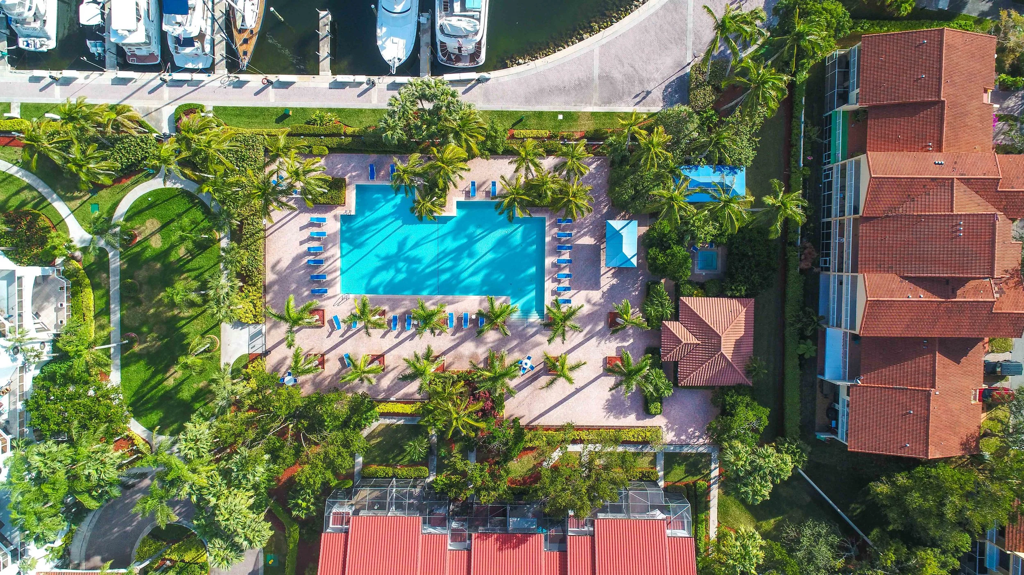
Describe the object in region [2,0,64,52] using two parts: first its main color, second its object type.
white boat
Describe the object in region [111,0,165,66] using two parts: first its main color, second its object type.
white boat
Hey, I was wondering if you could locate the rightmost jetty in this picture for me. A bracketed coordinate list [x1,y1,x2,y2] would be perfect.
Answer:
[420,13,432,76]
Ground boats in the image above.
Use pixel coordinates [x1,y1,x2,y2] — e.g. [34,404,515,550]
[16,36,51,53]
[202,0,267,71]
[79,0,108,58]
[163,0,215,71]
[435,0,488,70]
[111,0,165,66]
[2,0,64,52]
[376,0,419,74]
